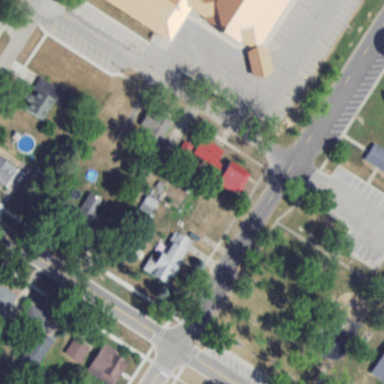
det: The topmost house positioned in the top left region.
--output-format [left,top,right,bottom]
[31,76,60,120]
